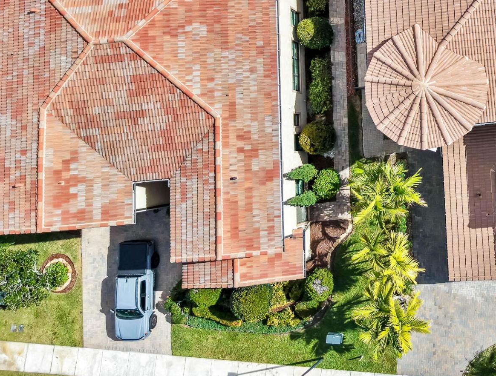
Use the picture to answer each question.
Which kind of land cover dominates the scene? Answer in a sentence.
Most of the picture is covered by buildings.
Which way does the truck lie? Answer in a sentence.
From this overhead view, the truck appears to run up and down.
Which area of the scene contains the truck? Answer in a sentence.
The truck is located in the bottom left region of the scene.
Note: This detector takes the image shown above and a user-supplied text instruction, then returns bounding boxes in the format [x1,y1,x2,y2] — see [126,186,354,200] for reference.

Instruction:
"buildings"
[361,0,496,280]
[0,0,313,289]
